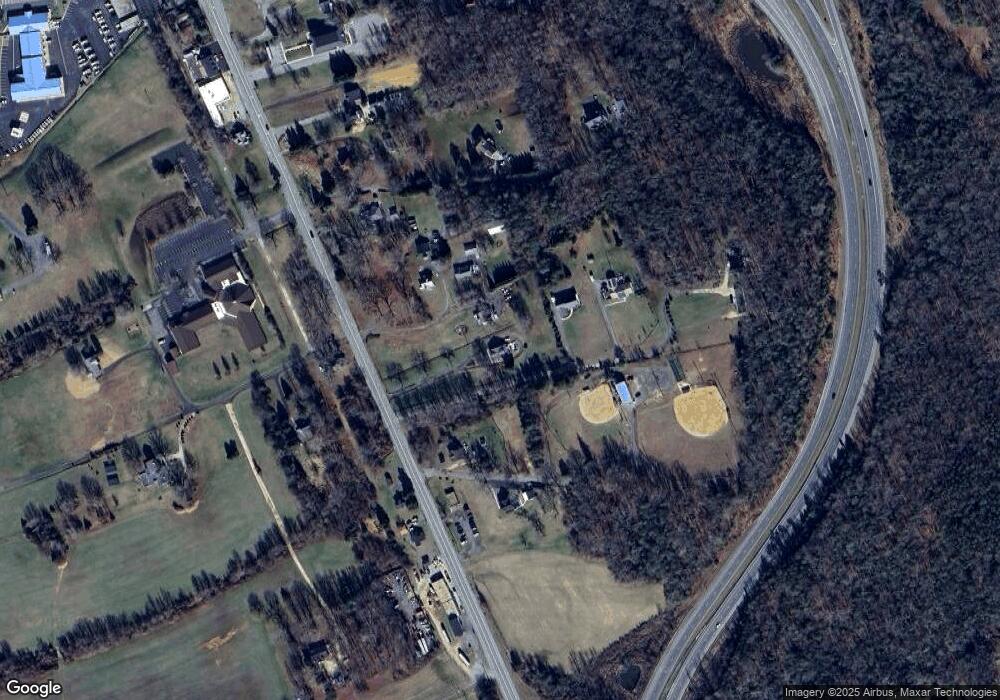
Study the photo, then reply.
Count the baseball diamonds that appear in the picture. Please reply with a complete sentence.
The picture shows 2 baseball diamonds.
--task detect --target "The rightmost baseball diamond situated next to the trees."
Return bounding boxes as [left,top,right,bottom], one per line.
[634,384,737,473]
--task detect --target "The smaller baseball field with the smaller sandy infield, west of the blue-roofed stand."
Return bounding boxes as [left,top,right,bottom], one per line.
[546,382,628,452]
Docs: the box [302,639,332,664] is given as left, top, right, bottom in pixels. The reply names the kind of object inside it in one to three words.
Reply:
house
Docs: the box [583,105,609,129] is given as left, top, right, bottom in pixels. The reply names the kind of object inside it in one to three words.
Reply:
house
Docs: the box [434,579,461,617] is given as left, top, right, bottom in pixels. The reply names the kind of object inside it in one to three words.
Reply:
building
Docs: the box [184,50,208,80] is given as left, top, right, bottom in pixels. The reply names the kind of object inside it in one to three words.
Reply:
building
